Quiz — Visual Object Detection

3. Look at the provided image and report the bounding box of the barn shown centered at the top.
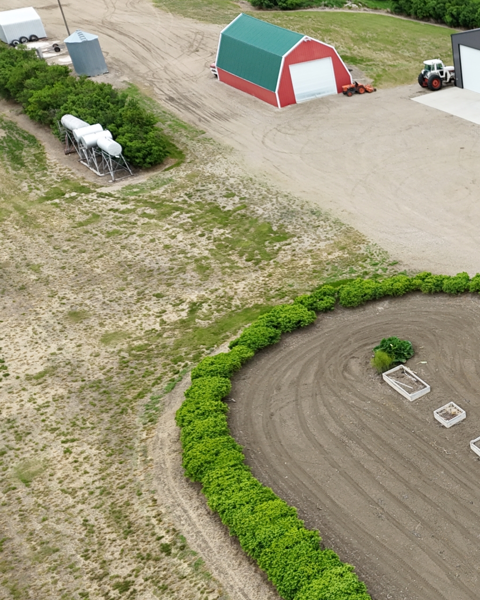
[212,12,354,106]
